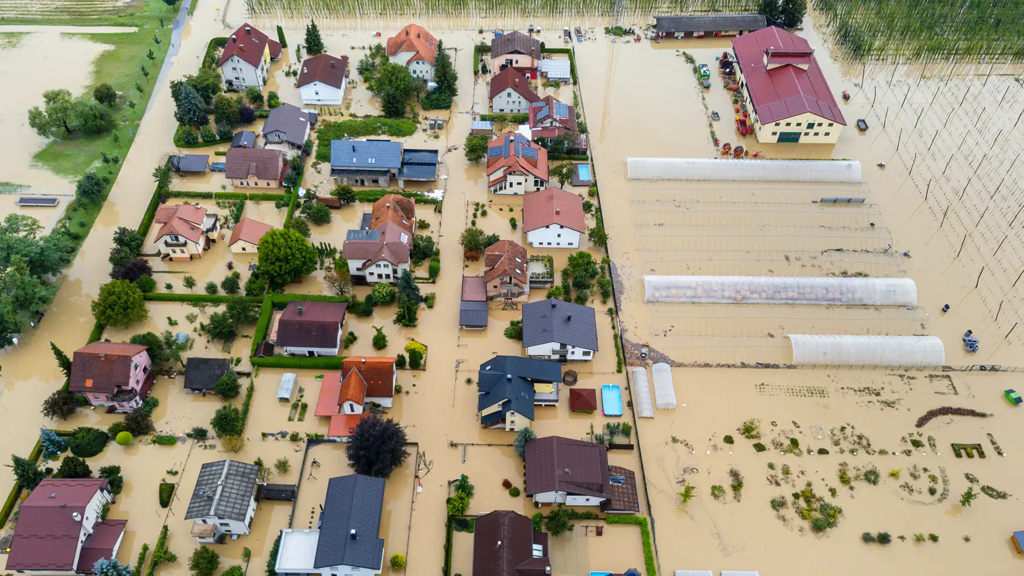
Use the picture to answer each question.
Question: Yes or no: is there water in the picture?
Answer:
Yes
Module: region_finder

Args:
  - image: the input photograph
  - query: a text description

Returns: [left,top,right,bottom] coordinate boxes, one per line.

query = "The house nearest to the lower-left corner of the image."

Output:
[5,479,130,576]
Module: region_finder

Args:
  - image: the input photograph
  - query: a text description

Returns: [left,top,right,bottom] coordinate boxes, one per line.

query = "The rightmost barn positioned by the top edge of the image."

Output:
[733,26,847,144]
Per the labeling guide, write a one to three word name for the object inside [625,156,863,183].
greenhouse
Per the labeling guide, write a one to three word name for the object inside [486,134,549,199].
house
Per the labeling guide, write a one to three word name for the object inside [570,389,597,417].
gazebo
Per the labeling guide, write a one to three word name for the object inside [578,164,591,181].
swimming pool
